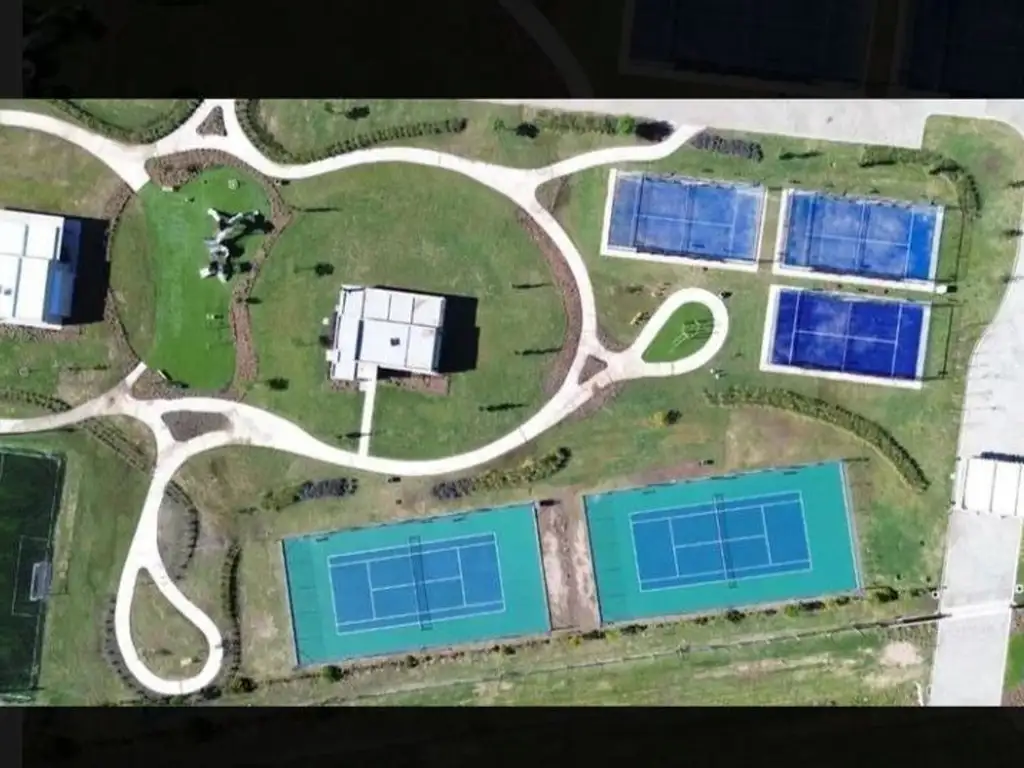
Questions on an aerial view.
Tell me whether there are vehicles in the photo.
No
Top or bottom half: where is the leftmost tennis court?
bottom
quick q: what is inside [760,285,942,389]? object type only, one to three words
sports court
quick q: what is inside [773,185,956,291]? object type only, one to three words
sports court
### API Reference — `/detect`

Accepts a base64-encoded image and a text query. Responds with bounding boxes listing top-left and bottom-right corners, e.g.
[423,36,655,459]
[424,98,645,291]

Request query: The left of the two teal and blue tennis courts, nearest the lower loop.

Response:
[280,500,555,669]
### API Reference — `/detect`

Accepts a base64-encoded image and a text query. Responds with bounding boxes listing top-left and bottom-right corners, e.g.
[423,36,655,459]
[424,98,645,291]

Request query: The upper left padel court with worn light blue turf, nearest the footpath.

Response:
[601,167,771,272]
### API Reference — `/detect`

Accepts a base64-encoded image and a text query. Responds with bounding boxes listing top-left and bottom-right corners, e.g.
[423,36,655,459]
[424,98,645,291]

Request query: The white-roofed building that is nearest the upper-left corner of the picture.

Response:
[0,210,86,330]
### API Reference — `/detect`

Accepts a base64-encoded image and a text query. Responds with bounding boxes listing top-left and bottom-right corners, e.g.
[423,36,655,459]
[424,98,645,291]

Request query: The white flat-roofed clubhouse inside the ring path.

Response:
[324,285,446,380]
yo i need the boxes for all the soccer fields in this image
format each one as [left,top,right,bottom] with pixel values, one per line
[0,446,63,692]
